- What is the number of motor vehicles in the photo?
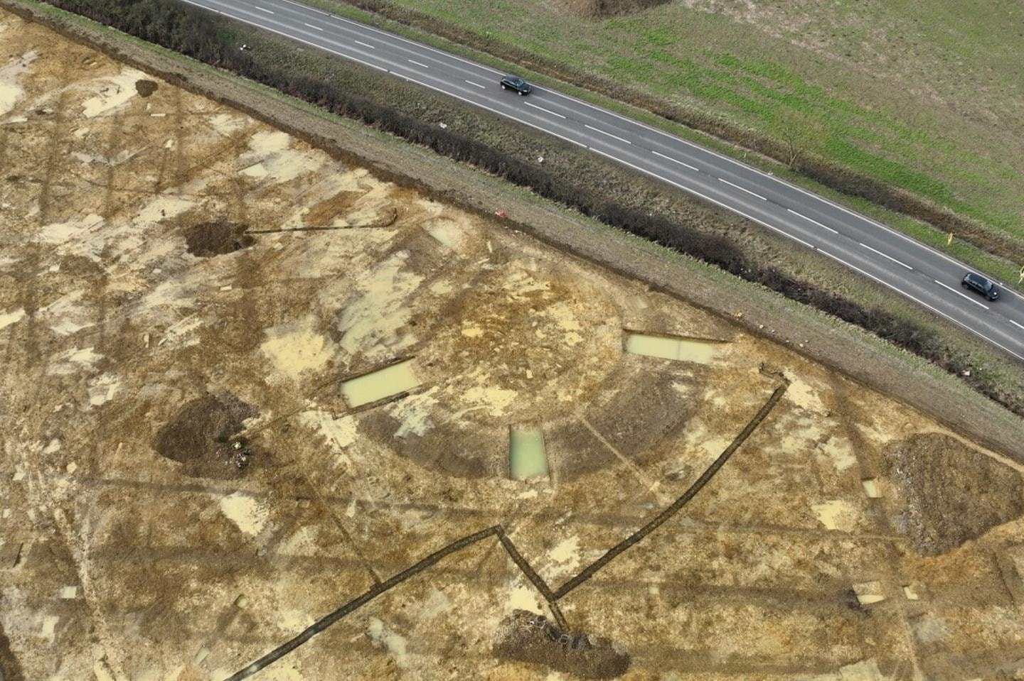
two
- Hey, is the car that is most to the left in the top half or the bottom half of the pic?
top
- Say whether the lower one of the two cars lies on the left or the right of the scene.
right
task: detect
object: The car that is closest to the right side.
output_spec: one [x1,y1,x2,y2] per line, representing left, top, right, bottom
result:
[961,269,1005,300]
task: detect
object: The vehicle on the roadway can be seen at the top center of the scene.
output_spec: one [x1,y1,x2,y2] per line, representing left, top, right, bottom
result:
[499,72,530,93]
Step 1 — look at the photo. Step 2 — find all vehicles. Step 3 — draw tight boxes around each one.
[961,269,1005,300]
[499,72,530,93]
